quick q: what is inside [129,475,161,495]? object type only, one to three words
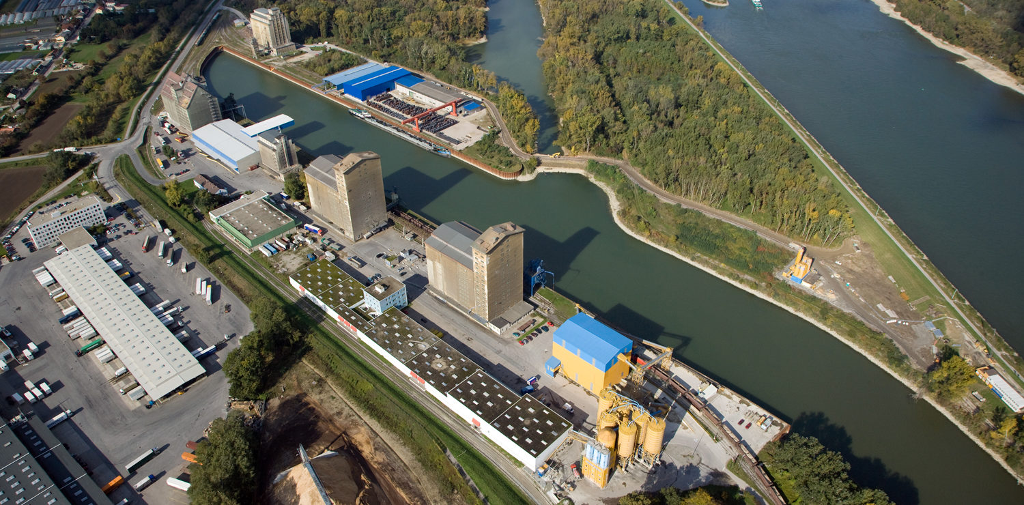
vehicle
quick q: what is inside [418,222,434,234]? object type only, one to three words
rail car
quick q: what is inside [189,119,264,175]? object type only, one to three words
building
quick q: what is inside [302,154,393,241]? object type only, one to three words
silo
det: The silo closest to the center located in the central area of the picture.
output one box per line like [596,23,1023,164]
[419,222,537,334]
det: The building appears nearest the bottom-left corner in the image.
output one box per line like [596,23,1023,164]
[0,417,112,505]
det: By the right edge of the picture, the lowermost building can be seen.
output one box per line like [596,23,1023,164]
[976,362,1024,411]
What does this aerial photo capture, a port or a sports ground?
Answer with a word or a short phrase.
port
